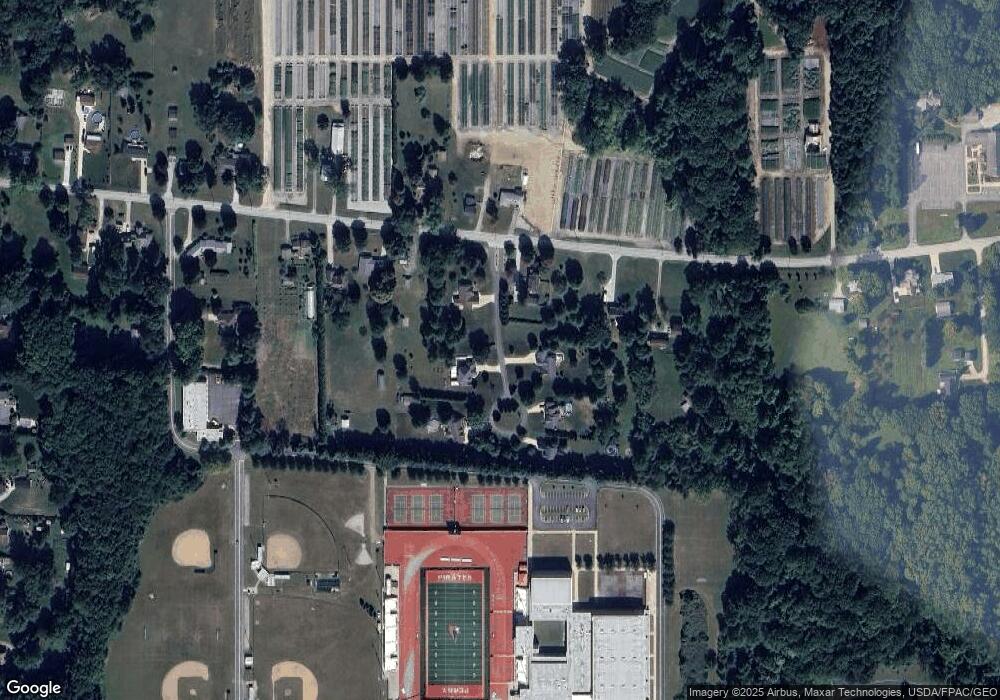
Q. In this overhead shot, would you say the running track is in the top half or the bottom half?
bottom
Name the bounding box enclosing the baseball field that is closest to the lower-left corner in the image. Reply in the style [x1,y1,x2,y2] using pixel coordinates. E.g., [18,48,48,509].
[160,661,212,700]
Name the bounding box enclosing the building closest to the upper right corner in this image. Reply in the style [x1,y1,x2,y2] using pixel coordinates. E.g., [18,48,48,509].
[917,92,941,110]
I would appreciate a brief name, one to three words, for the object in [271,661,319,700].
baseball field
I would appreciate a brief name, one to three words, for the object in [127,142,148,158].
house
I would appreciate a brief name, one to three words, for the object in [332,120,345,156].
barn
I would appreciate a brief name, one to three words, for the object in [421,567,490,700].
sports field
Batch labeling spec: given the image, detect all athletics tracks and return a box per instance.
[386,531,527,700]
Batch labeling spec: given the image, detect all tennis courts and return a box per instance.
[430,495,444,523]
[472,495,485,523]
[394,495,408,523]
[490,495,505,523]
[507,495,521,523]
[411,495,426,523]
